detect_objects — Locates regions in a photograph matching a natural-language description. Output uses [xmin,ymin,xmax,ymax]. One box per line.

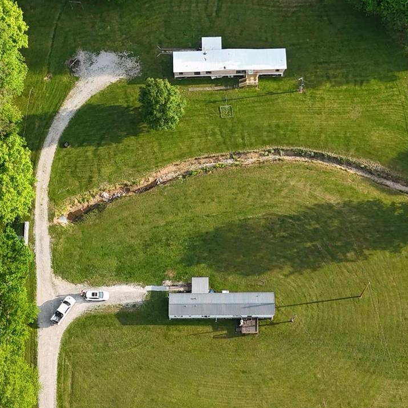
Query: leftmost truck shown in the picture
[48,295,77,327]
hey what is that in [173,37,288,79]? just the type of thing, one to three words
house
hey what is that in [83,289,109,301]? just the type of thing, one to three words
vehicle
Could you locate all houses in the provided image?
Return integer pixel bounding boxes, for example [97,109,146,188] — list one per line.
[168,277,275,320]
[173,37,288,79]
